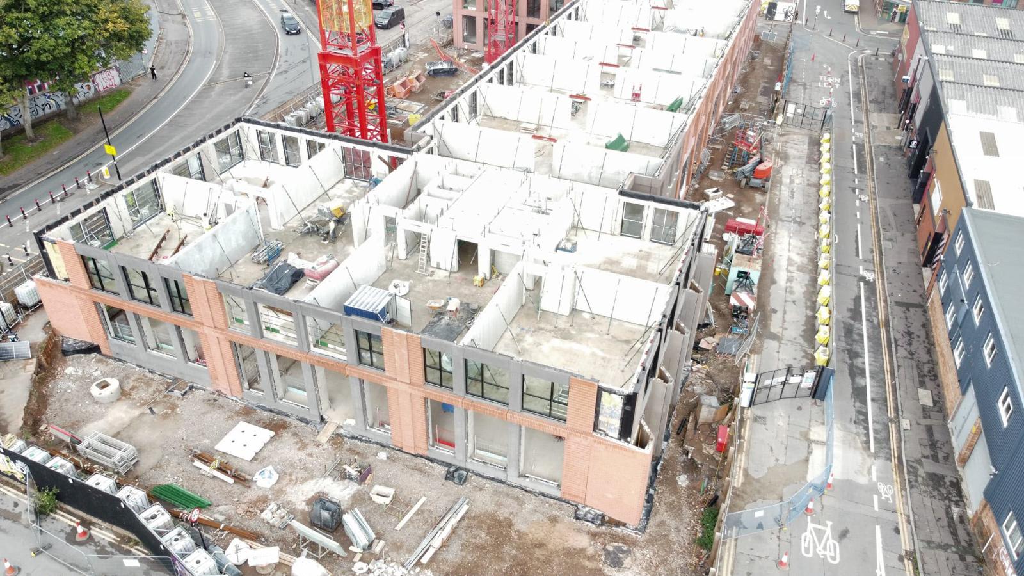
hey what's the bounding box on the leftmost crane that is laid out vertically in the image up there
[312,0,394,179]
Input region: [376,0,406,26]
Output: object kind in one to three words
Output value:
vehicle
